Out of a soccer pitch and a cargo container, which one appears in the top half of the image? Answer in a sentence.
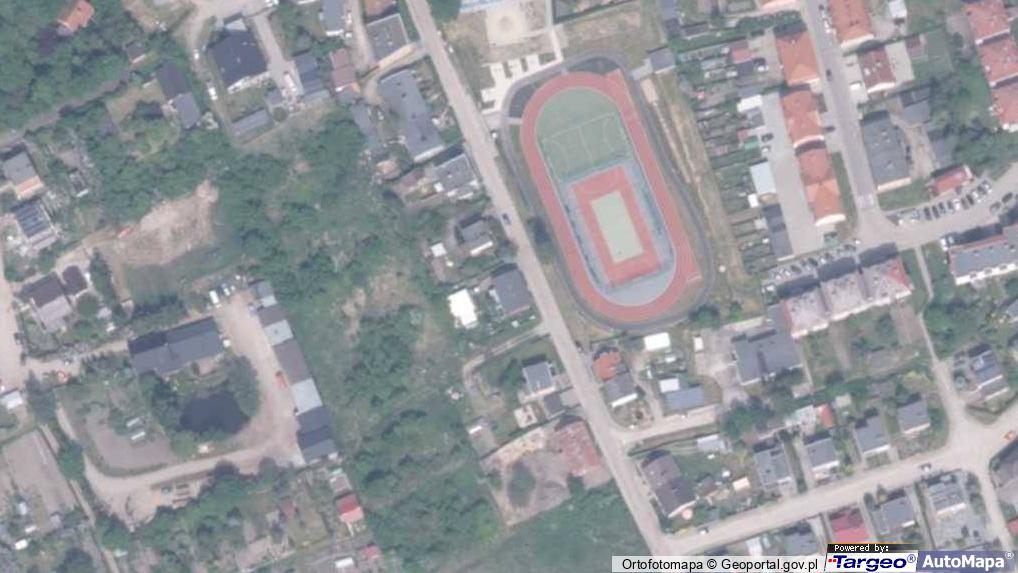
The one visible in the top half of the image is a soccer pitch.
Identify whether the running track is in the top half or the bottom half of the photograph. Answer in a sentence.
It is in the top half that the running track appears.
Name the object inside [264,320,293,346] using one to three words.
building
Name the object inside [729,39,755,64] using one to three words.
house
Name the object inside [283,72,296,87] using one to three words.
vehicle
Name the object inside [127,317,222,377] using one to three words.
barn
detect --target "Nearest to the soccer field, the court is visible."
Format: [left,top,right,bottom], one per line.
[571,166,661,287]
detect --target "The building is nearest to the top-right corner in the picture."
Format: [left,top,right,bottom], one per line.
[964,0,1012,44]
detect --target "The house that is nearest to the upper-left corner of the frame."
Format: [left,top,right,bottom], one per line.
[56,0,94,39]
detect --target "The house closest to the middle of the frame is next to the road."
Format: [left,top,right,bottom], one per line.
[490,270,533,315]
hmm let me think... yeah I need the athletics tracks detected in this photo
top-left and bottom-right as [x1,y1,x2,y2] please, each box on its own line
[520,74,703,320]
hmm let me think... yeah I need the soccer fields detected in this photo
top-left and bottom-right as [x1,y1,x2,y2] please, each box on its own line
[538,91,633,188]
